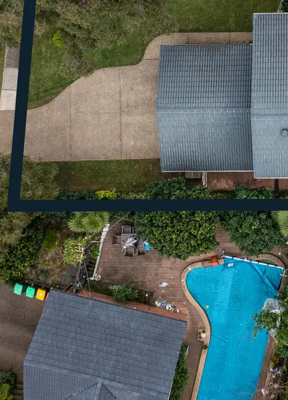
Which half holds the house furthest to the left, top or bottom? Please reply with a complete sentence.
You can find the house furthest to the left in the bottom half.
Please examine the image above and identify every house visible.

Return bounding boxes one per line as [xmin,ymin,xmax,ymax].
[22,283,189,400]
[156,13,288,178]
